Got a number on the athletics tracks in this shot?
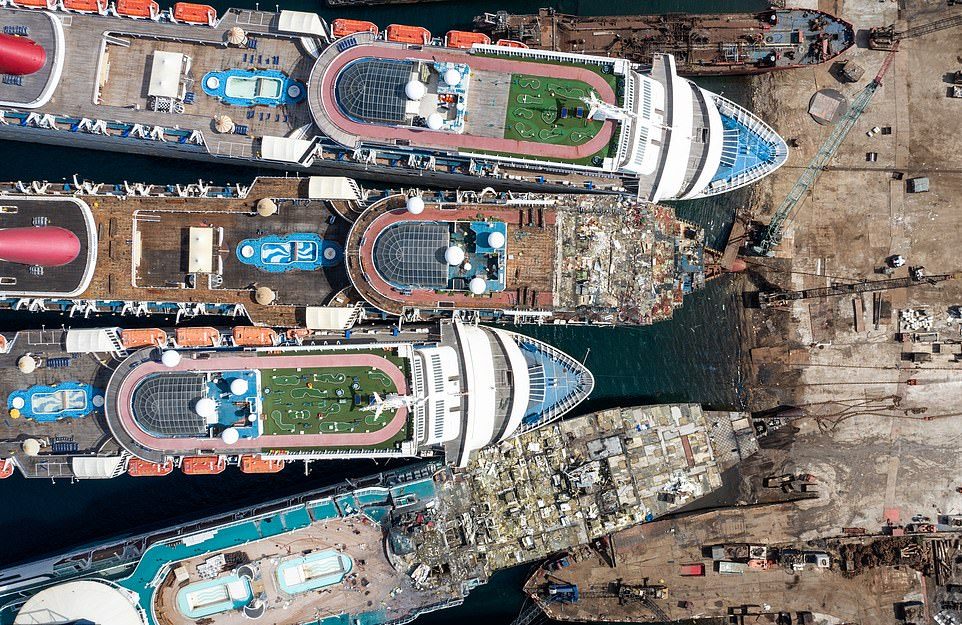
3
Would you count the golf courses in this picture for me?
two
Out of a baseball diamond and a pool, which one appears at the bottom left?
pool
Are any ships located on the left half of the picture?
Yes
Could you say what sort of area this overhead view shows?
parking lot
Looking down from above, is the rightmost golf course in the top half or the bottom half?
top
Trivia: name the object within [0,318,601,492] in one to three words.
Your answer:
ship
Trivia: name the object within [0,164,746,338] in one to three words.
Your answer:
ship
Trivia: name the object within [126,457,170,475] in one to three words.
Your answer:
boat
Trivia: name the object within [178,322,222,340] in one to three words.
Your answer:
boat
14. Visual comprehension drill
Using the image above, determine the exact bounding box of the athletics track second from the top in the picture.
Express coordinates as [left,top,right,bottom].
[357,206,551,309]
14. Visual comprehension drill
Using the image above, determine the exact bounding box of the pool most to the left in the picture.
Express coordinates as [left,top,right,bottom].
[4,382,108,423]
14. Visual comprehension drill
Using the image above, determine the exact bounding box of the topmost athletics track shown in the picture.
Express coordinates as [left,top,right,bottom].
[319,43,613,161]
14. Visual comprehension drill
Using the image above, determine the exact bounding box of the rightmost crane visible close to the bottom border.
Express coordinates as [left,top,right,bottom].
[631,577,676,625]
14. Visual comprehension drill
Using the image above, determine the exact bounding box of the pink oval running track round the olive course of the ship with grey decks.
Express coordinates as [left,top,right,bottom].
[118,350,412,451]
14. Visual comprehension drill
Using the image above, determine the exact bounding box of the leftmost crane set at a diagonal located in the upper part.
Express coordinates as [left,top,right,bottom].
[741,38,908,263]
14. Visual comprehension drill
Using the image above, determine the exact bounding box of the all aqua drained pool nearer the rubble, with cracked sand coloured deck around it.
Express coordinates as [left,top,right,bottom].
[276,546,355,595]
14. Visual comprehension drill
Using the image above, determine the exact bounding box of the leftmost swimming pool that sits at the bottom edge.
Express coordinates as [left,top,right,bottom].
[177,571,257,617]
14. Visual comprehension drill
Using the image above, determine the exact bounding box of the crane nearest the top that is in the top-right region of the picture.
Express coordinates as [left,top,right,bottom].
[860,8,962,55]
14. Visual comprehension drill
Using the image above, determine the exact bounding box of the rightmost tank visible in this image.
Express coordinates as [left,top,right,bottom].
[807,87,847,126]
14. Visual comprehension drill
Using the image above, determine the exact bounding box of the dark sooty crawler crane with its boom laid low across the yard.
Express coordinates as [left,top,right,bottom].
[744,274,955,309]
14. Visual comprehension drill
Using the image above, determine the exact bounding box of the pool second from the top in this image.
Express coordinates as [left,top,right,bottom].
[235,232,343,273]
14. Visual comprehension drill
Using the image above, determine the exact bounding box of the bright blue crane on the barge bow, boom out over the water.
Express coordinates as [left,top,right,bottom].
[520,577,581,625]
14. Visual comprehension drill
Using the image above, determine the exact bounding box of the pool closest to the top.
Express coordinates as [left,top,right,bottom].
[200,65,307,109]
